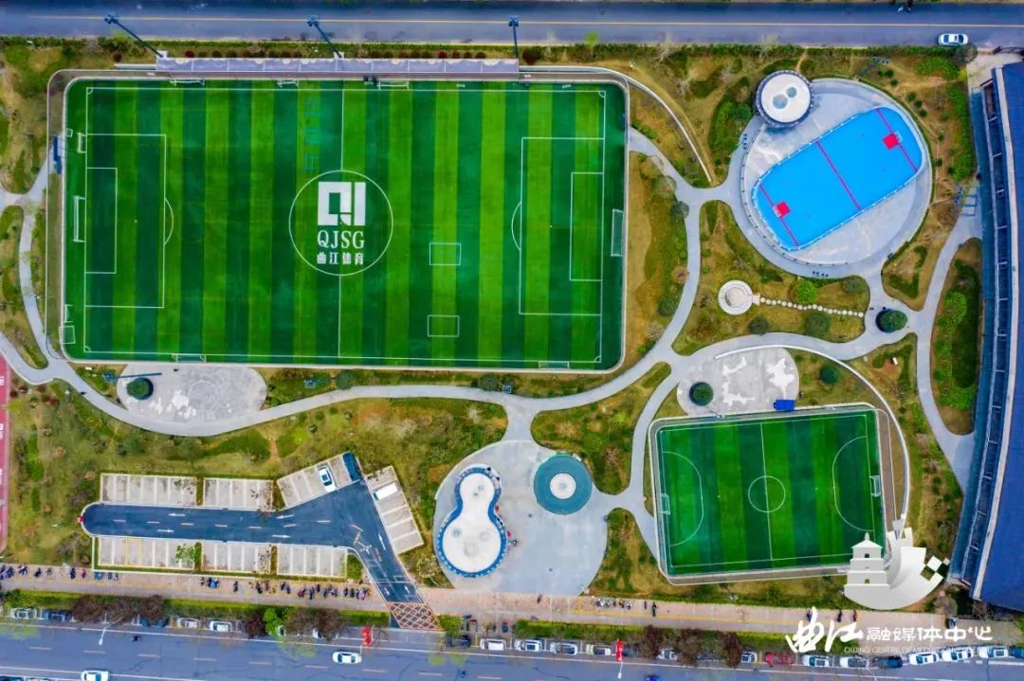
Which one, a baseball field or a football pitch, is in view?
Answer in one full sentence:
I can see a football pitch in this picture.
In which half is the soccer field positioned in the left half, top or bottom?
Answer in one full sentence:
It is in the top half that the soccer field positioned in the left half appears.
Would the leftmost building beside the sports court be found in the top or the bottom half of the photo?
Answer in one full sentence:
The top half of the photo is where the leftmost building beside the sports court is.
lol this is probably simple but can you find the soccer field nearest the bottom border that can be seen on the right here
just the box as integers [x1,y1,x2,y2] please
[649,401,899,587]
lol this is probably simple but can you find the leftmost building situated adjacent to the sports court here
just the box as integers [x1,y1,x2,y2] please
[750,67,815,131]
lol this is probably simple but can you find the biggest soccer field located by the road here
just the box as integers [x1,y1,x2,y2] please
[44,69,629,374]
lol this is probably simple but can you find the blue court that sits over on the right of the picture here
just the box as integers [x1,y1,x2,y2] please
[754,104,924,251]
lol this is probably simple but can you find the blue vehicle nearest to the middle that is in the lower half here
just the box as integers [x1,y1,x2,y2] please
[341,452,361,480]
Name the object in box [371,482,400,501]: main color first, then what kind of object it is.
white car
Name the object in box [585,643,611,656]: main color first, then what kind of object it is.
white vehicle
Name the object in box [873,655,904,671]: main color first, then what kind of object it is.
blue car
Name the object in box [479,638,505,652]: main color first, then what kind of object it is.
white car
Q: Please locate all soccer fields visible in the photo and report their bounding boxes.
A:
[44,69,629,374]
[649,401,899,587]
